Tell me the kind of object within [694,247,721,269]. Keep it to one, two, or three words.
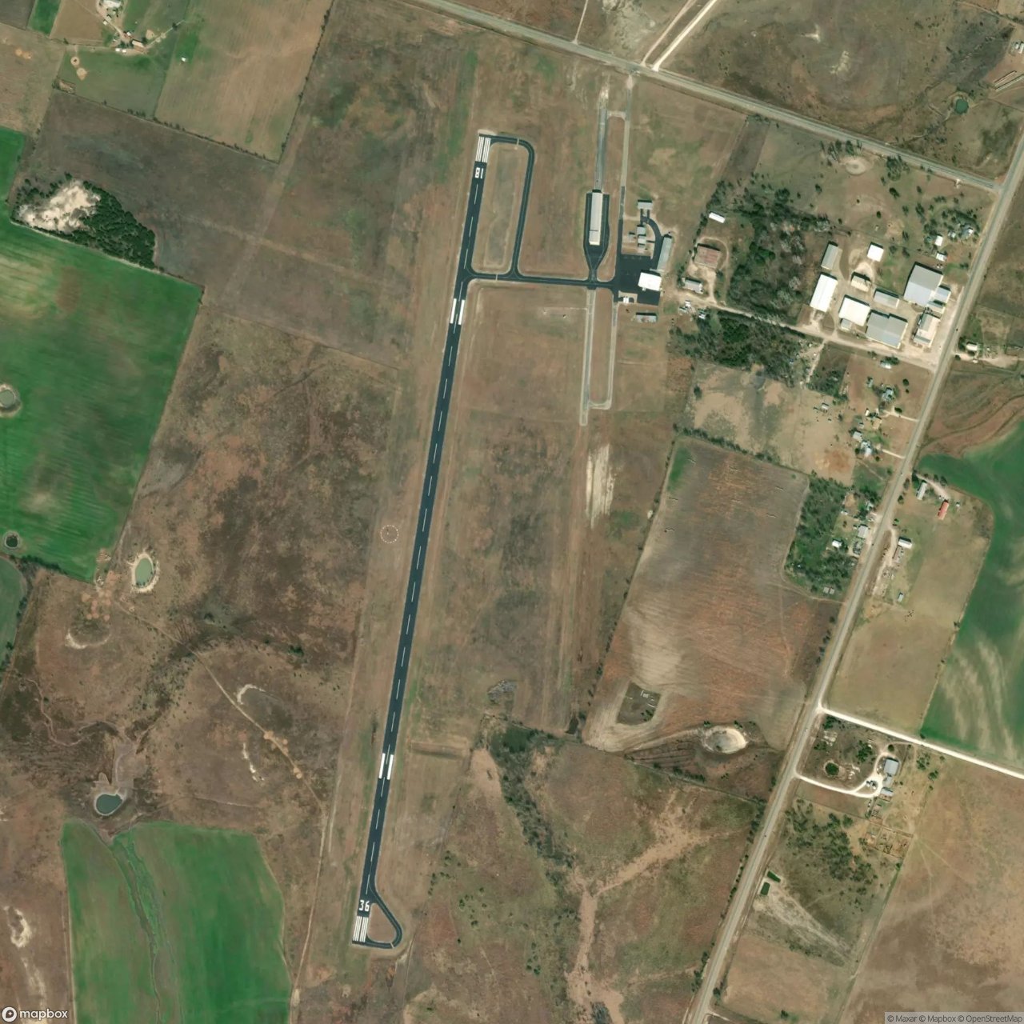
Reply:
barn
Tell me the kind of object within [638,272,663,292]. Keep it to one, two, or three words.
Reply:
hangar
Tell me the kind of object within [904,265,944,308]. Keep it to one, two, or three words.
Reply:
building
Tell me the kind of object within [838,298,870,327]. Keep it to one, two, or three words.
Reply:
building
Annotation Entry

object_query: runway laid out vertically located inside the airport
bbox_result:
[353,133,491,945]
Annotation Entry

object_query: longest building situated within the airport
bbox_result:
[589,193,603,246]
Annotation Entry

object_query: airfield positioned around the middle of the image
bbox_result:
[353,108,663,949]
